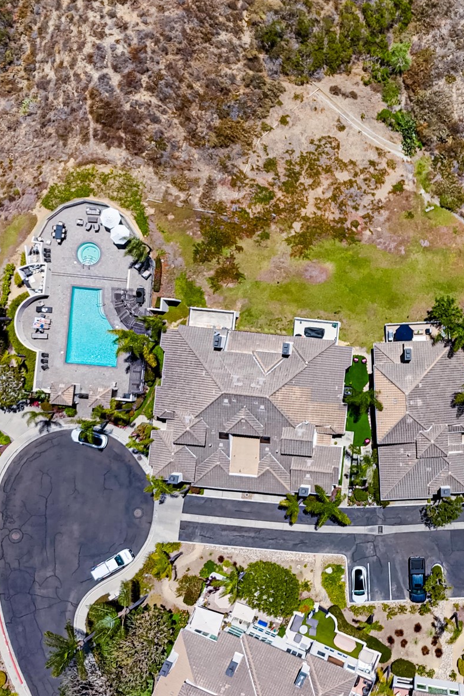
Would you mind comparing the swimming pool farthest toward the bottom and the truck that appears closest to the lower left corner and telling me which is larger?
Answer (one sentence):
The larger object is the swimming pool, with the truck being the smaller of the pair.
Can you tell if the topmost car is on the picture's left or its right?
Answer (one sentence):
You can find the topmost car on the left side of the picture.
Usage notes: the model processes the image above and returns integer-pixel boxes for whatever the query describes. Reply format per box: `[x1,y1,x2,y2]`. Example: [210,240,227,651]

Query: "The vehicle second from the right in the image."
[349,565,368,601]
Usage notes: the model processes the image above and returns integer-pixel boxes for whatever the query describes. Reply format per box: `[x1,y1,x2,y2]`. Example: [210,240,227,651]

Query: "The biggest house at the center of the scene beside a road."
[150,306,354,497]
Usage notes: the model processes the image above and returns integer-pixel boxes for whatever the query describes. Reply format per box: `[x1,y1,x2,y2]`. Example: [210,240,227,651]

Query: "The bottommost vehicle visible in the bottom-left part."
[89,550,136,580]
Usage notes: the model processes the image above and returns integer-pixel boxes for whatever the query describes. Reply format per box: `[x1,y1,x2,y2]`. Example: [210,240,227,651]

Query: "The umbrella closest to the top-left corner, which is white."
[101,208,121,228]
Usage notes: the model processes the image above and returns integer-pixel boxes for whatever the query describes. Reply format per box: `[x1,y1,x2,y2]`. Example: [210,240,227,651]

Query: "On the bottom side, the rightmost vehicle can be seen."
[408,556,425,602]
